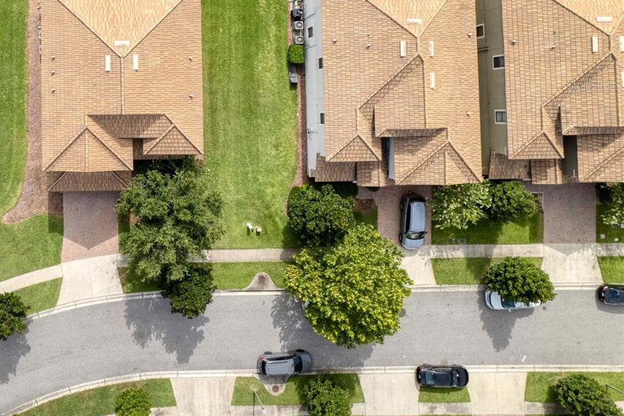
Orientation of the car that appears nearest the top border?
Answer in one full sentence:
The car that appears nearest the top border runs vertically in the image.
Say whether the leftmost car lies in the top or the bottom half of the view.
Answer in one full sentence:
Seen from above, the leftmost car lies in the bottom half of the view.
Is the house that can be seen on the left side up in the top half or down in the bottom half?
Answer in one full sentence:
The top half of the photo is where the house that can be seen on the left side is.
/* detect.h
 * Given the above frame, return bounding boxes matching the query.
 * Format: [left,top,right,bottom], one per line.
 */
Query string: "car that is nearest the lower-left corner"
[258,352,315,381]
